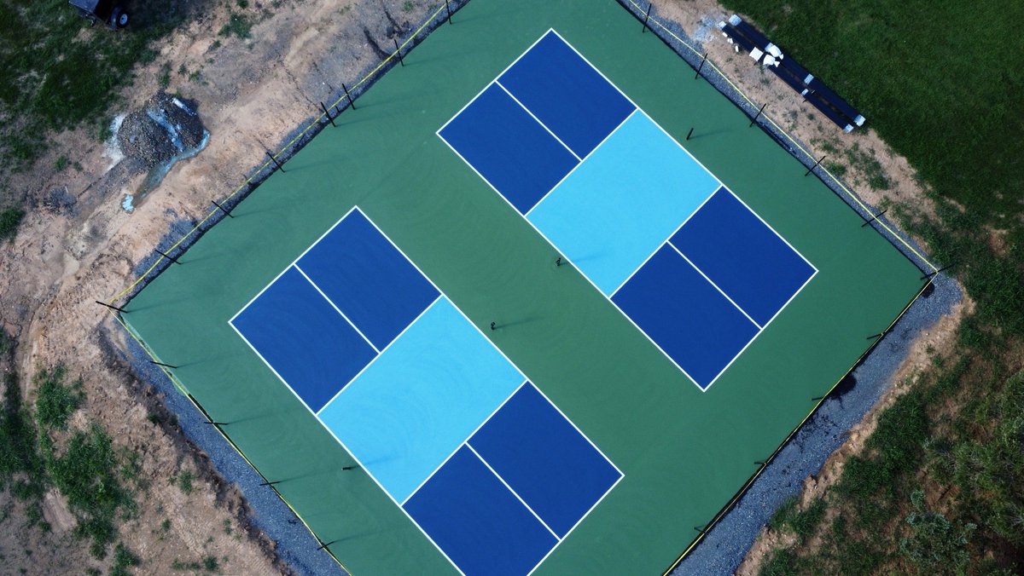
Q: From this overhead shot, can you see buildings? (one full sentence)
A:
No, the picture doesn't show any building.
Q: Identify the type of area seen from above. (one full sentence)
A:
This looks like a sports ground.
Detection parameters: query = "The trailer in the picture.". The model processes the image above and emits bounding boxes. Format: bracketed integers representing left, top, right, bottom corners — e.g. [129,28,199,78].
[67,0,126,28]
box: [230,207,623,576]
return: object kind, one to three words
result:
sports court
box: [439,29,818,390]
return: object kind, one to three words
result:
sports court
